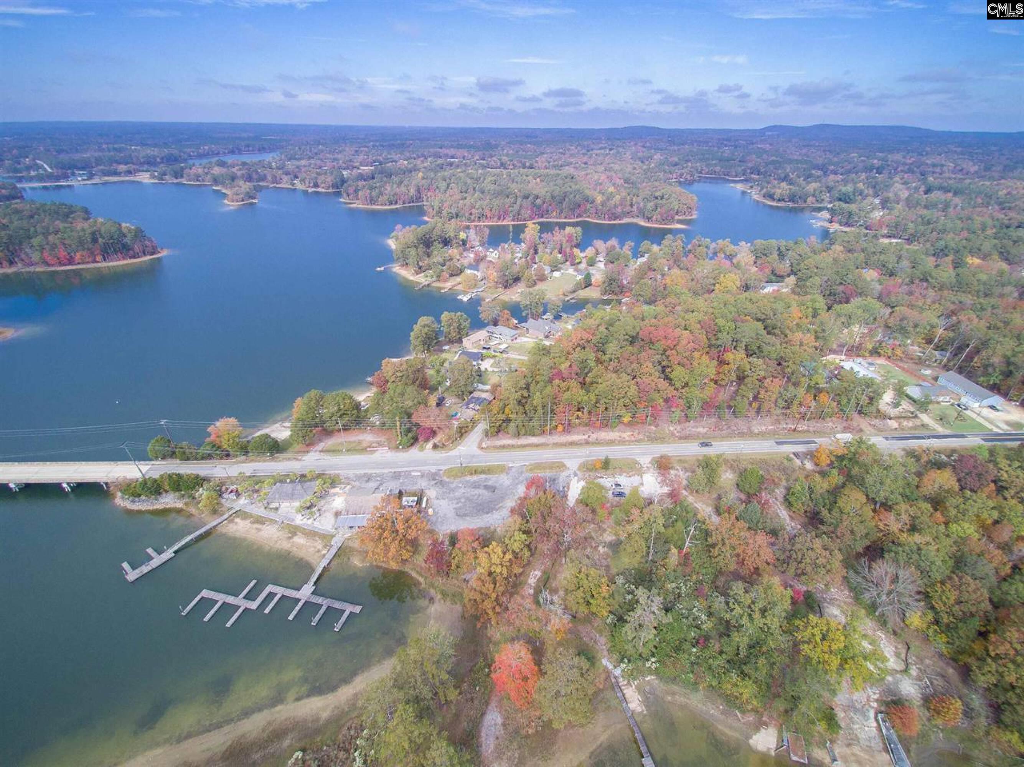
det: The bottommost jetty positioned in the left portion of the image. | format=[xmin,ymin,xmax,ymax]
[178,580,364,632]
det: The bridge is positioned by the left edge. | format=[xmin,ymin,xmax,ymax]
[0,456,173,493]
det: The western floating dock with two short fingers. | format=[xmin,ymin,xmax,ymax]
[121,544,172,582]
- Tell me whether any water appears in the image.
Yes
